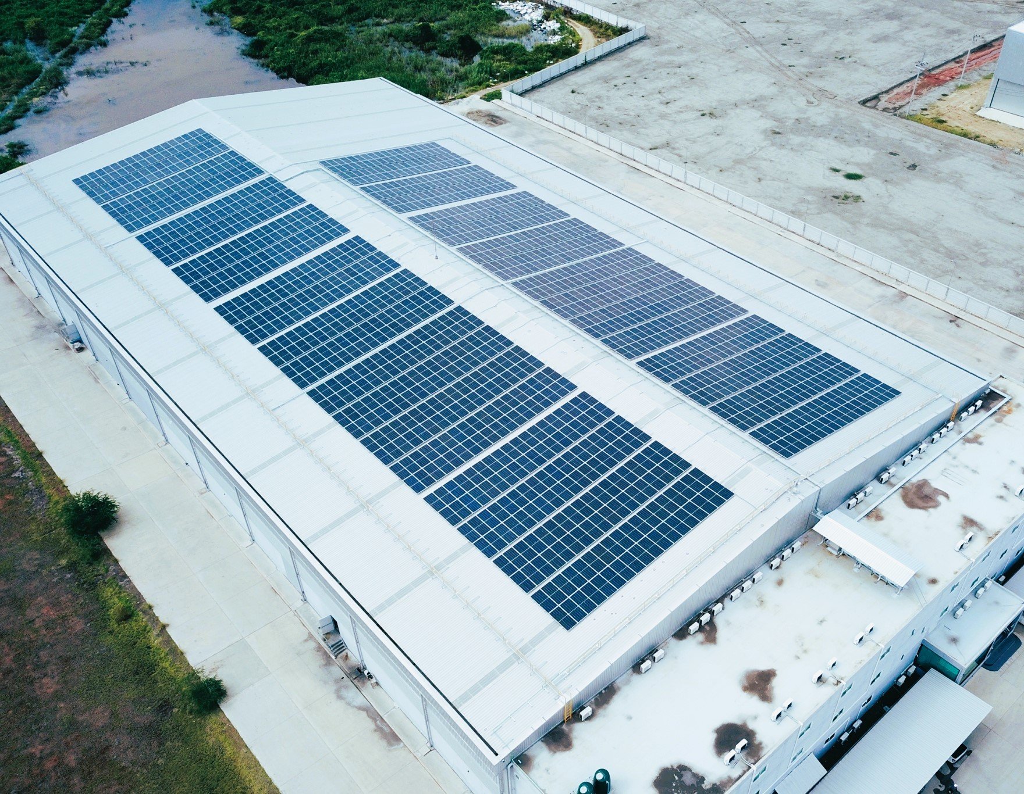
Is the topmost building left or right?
right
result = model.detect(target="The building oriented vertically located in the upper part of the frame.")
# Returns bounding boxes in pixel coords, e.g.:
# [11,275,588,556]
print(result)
[983,20,1024,116]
